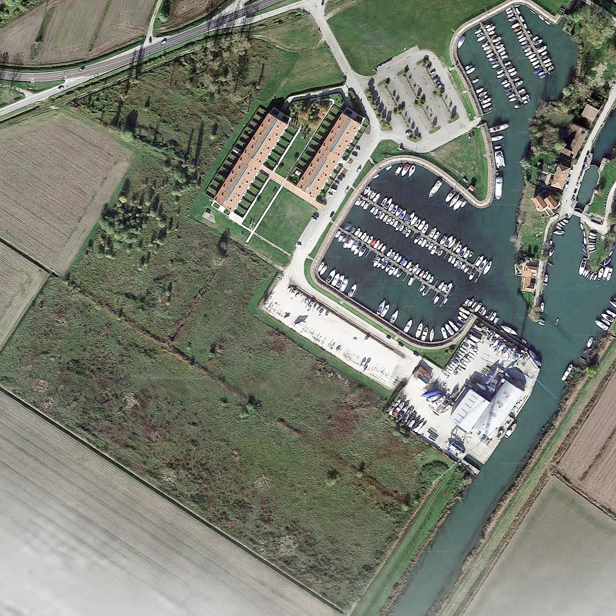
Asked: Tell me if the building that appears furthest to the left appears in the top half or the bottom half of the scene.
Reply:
top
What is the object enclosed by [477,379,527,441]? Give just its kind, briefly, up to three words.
hangar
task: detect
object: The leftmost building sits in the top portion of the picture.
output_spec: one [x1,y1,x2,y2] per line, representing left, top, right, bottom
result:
[214,104,293,212]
